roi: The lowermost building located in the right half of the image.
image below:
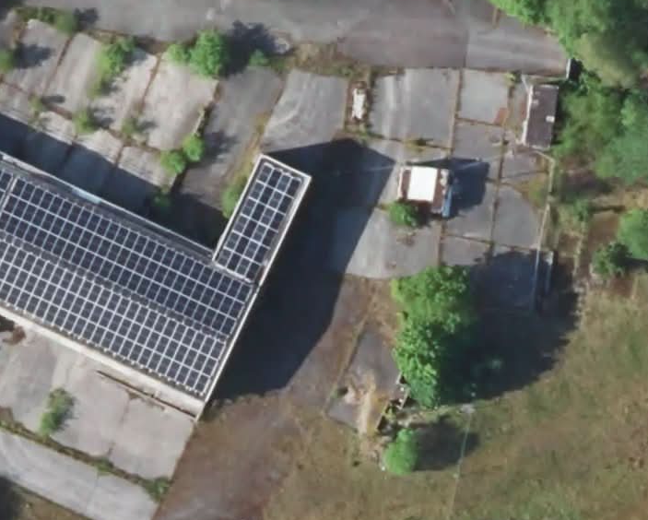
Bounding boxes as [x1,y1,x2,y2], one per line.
[393,167,450,216]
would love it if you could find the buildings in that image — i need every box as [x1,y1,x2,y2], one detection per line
[0,154,310,420]
[520,84,559,150]
[393,167,450,216]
